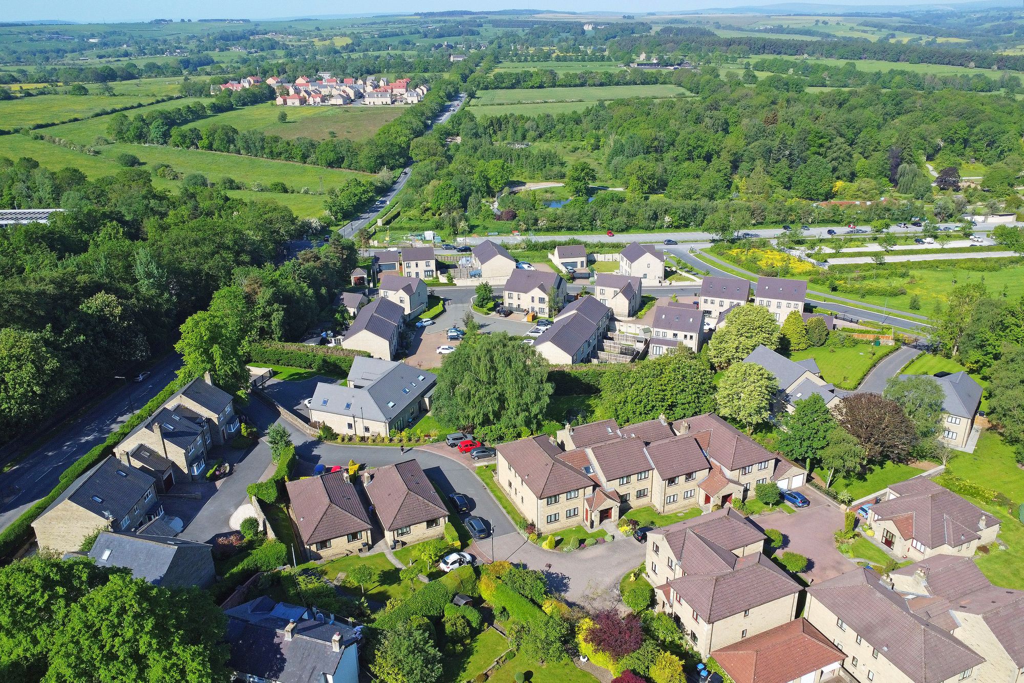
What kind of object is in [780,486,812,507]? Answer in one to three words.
car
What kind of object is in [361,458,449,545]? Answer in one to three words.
house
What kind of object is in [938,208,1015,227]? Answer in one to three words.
building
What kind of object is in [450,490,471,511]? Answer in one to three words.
car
